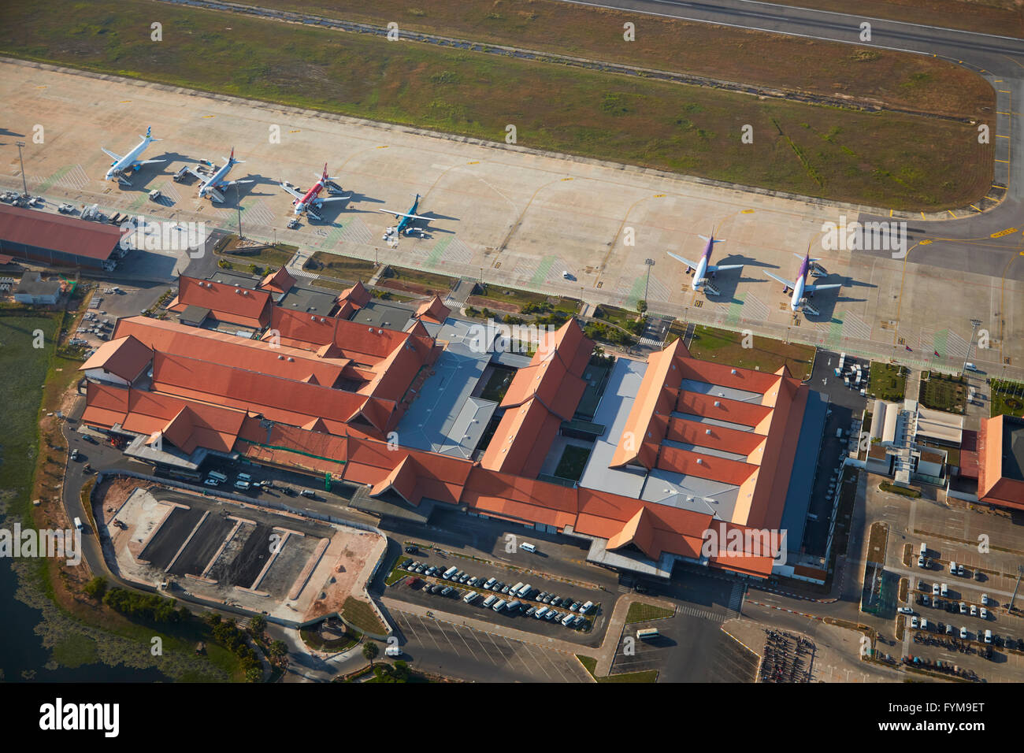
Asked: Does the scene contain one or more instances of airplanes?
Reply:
Yes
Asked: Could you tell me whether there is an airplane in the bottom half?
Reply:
No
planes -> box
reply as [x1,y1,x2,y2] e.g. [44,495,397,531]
[281,163,351,215]
[379,196,436,235]
[761,251,839,309]
[94,129,160,179]
[666,235,742,290]
[185,146,252,198]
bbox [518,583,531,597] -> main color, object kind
white vehicle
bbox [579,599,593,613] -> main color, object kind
white vehicle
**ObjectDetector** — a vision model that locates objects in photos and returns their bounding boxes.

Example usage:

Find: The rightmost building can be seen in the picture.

[959,414,1024,524]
